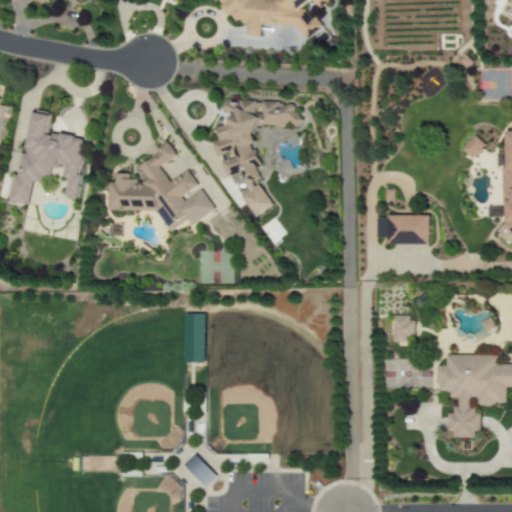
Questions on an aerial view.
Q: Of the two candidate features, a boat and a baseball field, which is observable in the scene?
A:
baseball field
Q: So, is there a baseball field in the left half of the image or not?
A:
Yes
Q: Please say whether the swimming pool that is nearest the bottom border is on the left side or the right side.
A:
right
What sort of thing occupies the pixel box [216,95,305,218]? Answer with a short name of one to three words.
house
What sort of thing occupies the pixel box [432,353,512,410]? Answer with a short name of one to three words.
house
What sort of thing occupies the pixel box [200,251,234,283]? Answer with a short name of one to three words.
sports court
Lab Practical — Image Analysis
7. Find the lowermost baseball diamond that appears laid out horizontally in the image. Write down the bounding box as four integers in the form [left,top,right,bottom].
[38,476,186,512]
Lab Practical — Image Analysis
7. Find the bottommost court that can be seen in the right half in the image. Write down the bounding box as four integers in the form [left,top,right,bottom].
[386,360,436,388]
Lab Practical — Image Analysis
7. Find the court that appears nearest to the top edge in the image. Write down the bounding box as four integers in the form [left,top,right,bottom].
[481,71,512,100]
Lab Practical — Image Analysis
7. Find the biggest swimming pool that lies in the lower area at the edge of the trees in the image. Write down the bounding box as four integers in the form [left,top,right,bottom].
[455,309,490,340]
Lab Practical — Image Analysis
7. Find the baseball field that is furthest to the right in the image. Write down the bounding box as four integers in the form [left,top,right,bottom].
[207,309,333,454]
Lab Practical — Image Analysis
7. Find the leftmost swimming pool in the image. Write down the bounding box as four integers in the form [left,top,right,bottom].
[44,202,68,219]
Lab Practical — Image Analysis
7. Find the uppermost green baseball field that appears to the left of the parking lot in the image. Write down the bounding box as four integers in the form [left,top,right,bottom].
[38,310,186,490]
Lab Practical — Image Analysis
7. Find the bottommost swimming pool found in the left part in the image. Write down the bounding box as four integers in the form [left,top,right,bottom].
[134,223,158,246]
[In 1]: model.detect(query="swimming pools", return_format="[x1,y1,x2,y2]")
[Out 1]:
[134,223,158,246]
[280,142,302,168]
[44,202,68,219]
[474,172,490,203]
[455,309,490,340]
